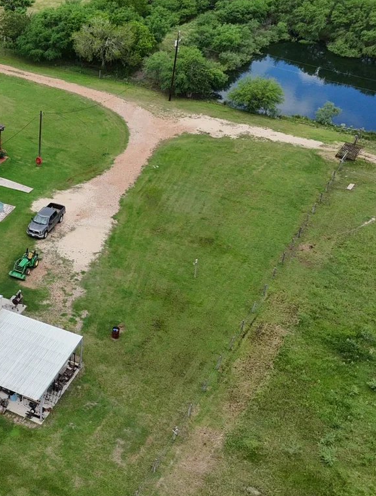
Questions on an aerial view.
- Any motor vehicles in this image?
Yes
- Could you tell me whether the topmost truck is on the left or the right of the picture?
left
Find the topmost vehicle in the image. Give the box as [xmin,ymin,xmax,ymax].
[25,204,67,238]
